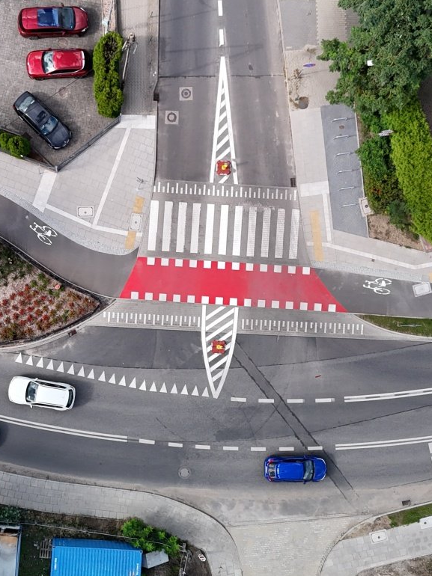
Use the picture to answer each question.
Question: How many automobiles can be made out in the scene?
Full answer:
The count of automobiles comes to 5.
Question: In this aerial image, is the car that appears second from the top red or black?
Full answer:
The color of the car that appears second from the top is red.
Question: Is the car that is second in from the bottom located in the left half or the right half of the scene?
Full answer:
The car that is second in from the bottom appears in the left half of the scene.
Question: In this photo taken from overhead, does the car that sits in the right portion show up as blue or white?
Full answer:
The car that sits in the right portion looks blue in the image.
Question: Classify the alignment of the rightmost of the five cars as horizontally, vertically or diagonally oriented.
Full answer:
I'd say the rightmost of the five cars is aligned horizontally in the picture.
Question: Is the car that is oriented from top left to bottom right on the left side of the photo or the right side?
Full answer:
The car that is oriented from top left to bottom right is on the left side of the image.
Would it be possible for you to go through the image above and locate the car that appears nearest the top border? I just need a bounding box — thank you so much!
[18,2,88,40]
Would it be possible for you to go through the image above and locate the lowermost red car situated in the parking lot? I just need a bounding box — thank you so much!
[25,44,90,82]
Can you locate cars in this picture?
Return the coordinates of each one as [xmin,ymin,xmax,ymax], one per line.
[7,374,77,410]
[18,2,88,40]
[11,86,74,153]
[25,44,90,82]
[262,452,327,486]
